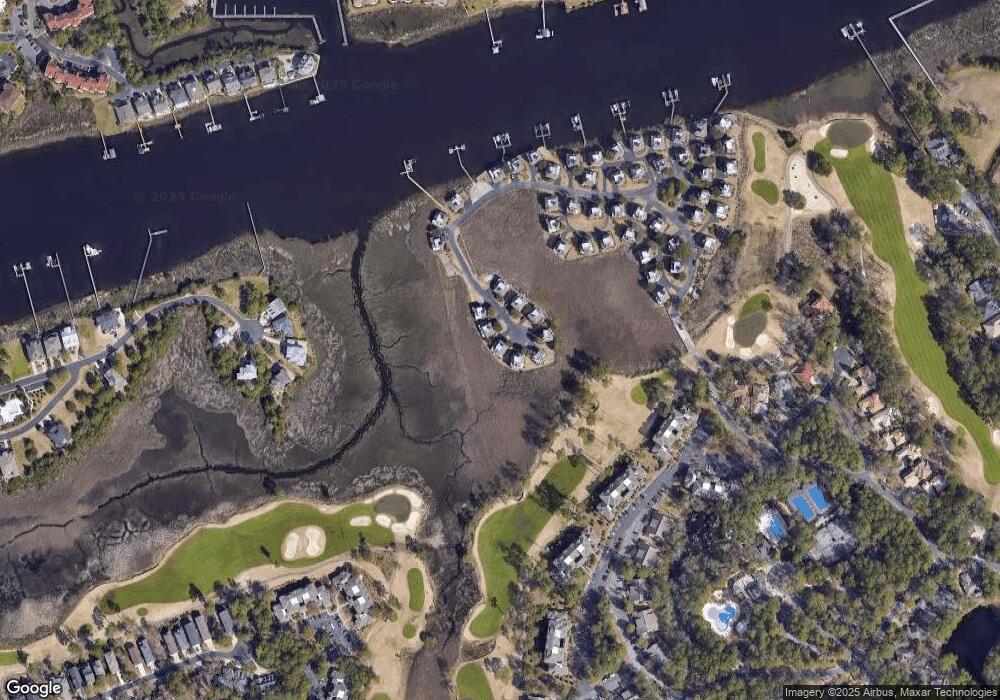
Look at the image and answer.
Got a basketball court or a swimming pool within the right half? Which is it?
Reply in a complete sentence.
You can see a swimming pool within the right half.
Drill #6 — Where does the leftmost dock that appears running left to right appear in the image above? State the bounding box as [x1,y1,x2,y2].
[211,0,325,45]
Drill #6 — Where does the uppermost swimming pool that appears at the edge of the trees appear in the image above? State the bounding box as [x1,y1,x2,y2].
[760,508,788,544]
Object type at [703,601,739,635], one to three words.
swimming pool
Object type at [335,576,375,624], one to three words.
building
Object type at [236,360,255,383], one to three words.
house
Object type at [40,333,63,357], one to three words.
house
